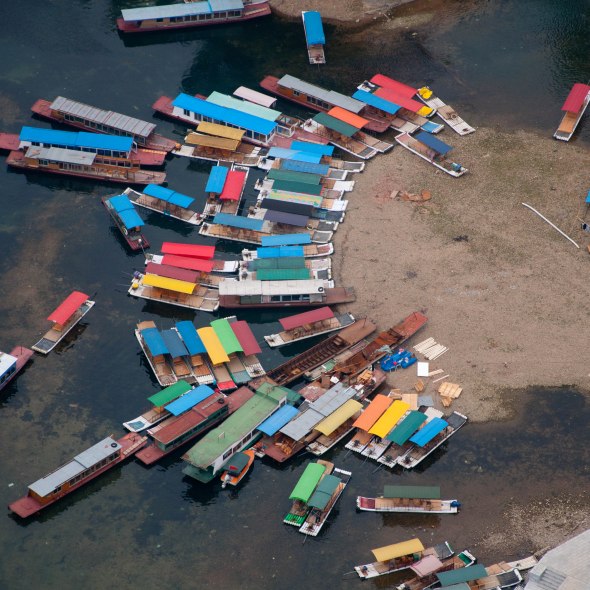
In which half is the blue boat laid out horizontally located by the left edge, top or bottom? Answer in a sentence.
The blue boat laid out horizontally located by the left edge sits in the top half of the picture.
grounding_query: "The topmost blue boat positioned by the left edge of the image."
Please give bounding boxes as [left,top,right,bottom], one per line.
[0,127,167,169]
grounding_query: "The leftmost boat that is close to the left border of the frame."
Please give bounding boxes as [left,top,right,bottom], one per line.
[0,342,36,395]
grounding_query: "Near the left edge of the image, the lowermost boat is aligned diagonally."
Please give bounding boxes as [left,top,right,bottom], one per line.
[9,432,148,517]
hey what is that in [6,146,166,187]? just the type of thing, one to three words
boat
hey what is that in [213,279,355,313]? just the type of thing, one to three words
boat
